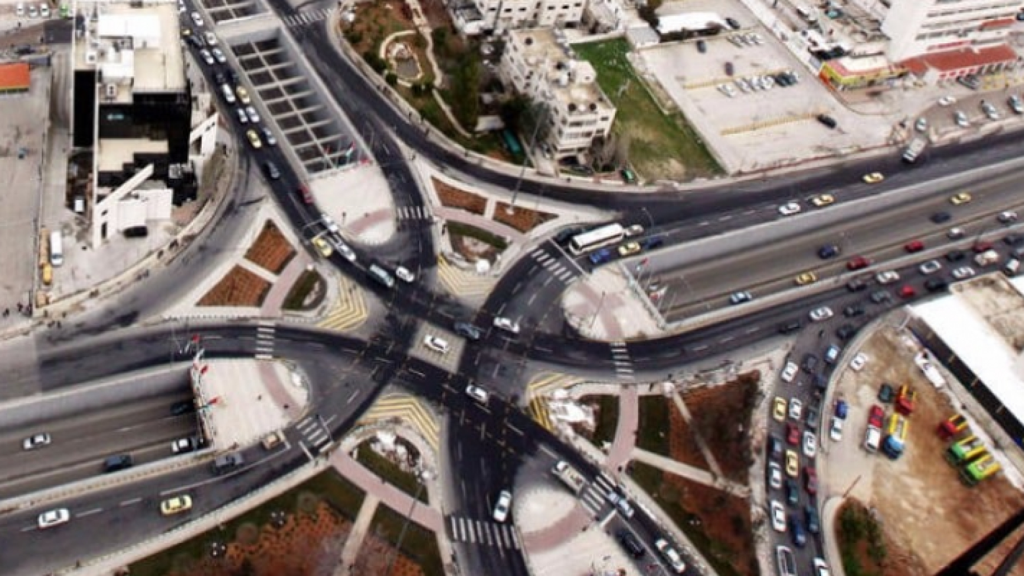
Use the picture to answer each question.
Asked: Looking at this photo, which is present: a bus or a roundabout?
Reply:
bus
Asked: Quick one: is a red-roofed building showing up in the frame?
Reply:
Yes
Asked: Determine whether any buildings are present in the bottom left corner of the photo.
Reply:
No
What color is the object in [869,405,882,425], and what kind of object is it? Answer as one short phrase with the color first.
red vehicle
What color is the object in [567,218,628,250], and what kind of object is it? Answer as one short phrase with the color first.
white bus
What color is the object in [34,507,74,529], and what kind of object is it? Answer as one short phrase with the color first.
white car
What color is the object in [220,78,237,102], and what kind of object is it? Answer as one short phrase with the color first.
white vehicle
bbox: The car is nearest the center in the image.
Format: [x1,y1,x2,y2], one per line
[491,312,522,335]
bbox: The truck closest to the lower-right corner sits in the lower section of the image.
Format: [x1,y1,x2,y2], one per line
[961,450,1008,483]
